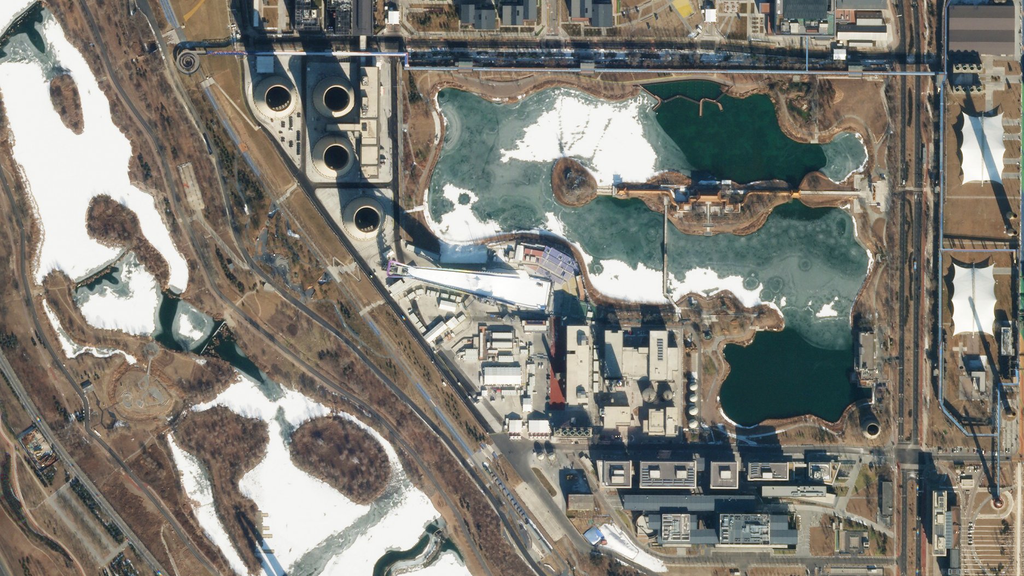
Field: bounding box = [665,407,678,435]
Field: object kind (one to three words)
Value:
building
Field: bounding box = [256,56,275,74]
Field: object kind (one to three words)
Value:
shed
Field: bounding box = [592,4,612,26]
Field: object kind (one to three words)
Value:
house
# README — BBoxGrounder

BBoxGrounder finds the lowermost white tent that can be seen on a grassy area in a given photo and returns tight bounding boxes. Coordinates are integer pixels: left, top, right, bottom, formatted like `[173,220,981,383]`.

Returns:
[952,263,997,339]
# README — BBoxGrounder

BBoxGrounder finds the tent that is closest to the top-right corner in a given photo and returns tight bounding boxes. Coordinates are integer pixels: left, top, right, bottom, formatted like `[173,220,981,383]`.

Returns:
[959,111,1006,187]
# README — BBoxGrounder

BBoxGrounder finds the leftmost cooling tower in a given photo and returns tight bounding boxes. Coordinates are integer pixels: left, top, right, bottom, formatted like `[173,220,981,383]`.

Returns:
[252,75,299,121]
